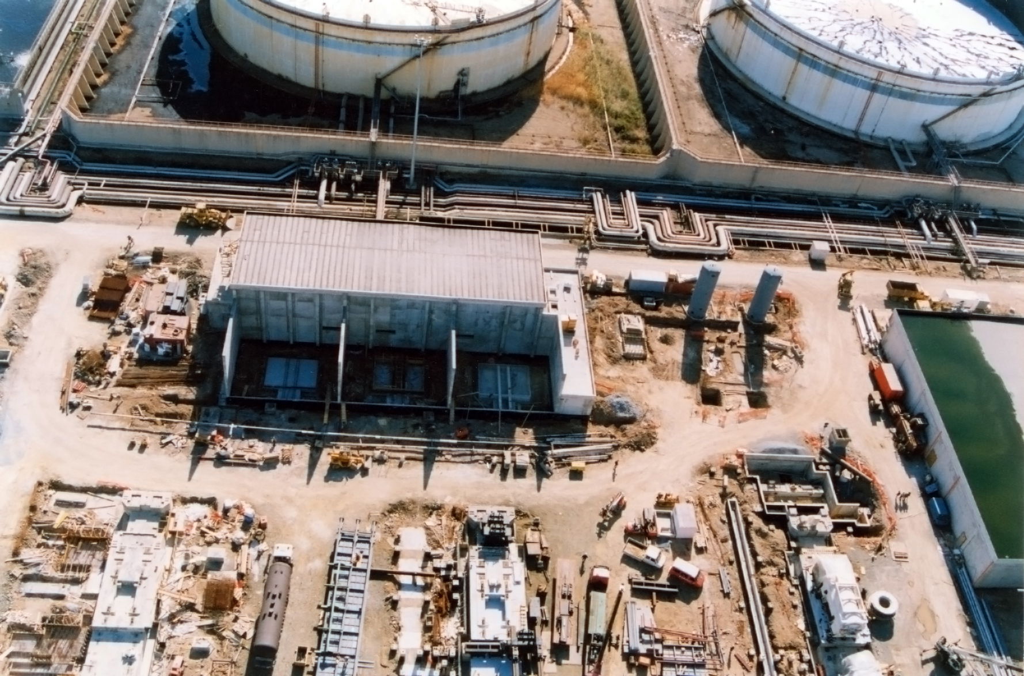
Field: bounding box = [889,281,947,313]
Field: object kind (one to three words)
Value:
truck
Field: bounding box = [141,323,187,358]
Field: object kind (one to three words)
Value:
shed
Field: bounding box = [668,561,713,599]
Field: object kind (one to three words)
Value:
van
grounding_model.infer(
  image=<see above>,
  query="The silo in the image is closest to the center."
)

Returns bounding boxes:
[687,258,726,326]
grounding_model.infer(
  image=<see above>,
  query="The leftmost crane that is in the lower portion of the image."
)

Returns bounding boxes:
[578,576,626,676]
